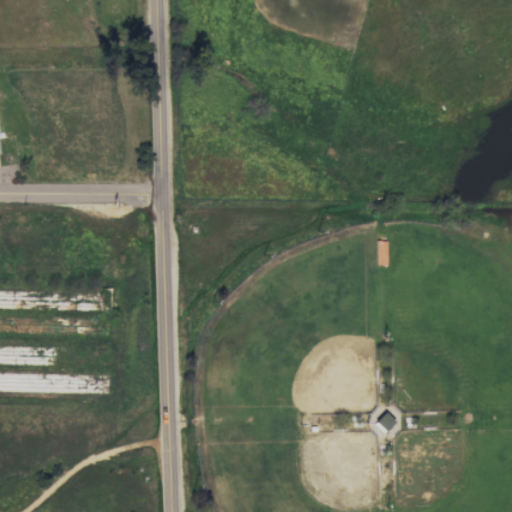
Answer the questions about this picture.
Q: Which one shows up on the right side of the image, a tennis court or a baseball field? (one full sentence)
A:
Visible on the right side of the image is a baseball field.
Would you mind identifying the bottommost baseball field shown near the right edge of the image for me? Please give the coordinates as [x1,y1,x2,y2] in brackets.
[397,432,512,512]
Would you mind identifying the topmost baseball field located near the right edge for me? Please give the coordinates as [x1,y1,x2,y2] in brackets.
[396,226,512,410]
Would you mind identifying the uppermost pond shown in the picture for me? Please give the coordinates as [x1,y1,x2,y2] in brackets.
[456,101,512,201]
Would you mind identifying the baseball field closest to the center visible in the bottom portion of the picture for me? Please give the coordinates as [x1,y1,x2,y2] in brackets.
[203,232,376,412]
